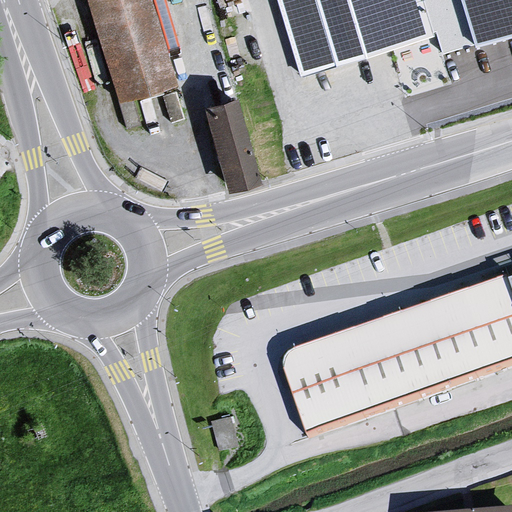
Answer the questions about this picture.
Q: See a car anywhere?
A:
Yes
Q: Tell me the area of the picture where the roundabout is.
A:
left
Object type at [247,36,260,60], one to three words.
vehicle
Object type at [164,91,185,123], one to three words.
building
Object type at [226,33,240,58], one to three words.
vehicle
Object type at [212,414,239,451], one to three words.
shed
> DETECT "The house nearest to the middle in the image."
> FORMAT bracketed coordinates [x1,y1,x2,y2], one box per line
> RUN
[206,100,262,194]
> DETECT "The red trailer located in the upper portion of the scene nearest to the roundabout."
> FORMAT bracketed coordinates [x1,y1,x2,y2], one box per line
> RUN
[64,30,96,93]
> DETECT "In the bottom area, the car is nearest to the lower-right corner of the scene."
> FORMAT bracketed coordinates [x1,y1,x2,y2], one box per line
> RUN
[430,392,453,405]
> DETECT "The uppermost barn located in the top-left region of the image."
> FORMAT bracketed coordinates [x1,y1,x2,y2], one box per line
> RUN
[88,0,178,103]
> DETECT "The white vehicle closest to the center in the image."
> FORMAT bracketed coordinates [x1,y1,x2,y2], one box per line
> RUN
[242,299,256,321]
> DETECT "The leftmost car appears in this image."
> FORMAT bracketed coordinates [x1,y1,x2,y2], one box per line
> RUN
[40,228,64,247]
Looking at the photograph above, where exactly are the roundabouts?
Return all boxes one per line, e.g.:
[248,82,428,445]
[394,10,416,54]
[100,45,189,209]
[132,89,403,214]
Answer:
[0,84,220,428]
